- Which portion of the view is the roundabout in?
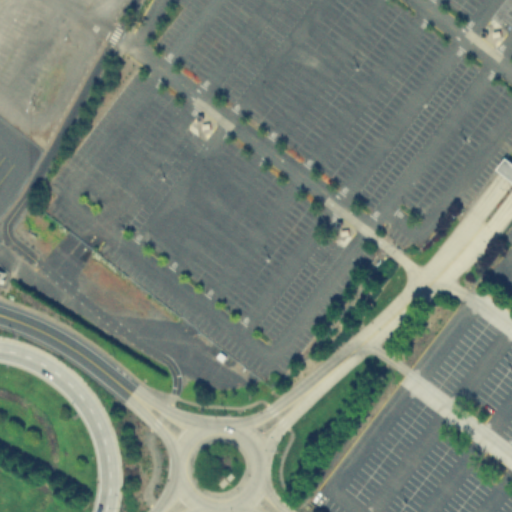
bottom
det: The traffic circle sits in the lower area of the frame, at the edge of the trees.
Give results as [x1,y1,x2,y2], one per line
[150,407,294,512]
